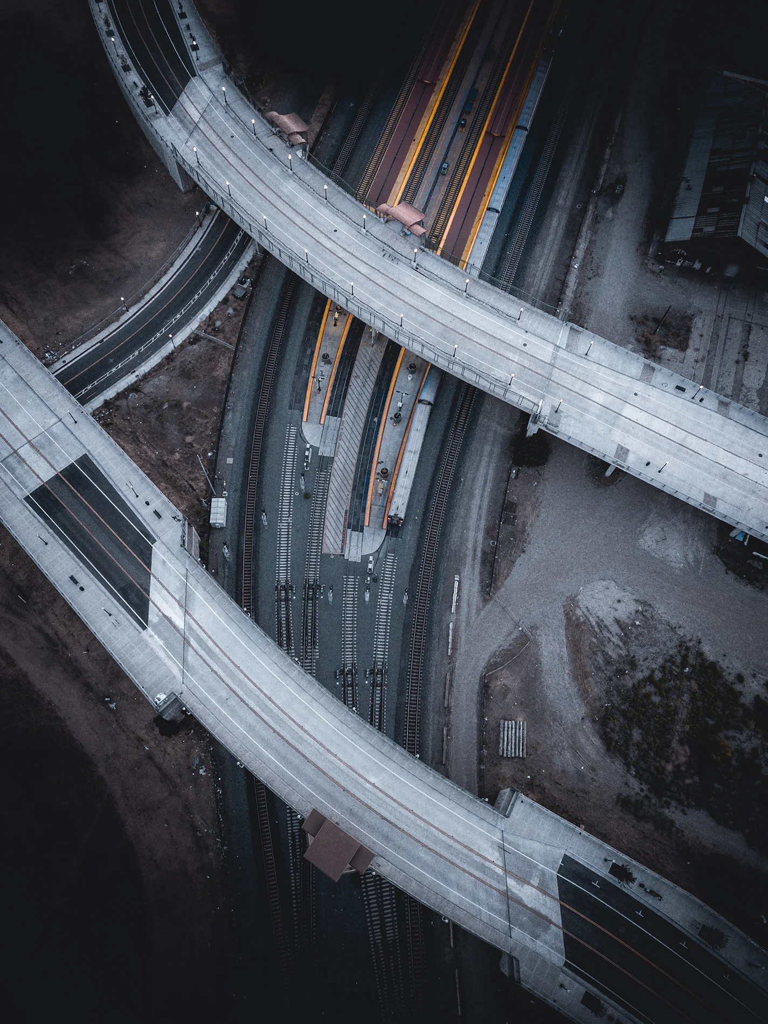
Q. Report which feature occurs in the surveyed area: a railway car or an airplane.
railway car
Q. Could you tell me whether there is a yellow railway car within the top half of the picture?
No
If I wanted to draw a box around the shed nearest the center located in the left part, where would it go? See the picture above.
[208,498,230,530]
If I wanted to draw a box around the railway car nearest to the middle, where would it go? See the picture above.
[387,400,432,532]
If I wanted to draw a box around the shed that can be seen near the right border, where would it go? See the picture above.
[652,73,768,293]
